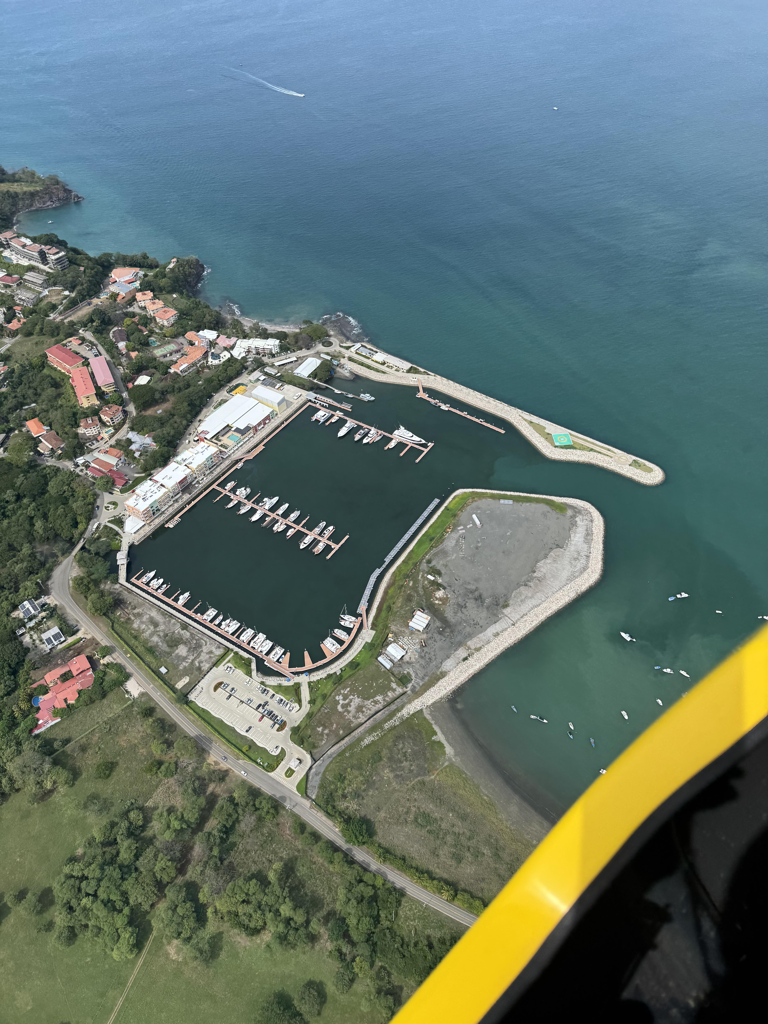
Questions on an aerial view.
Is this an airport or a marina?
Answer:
marina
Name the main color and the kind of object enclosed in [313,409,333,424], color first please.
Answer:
white boat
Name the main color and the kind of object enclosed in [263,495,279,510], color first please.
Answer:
white boat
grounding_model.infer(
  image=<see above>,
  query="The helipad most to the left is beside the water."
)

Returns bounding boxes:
[552,433,573,446]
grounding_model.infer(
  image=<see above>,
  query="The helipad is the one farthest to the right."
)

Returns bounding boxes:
[613,453,633,466]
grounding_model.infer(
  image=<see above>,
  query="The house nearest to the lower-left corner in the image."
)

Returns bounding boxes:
[28,654,95,739]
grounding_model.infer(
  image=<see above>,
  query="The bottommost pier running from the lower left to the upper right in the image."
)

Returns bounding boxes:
[287,617,363,673]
